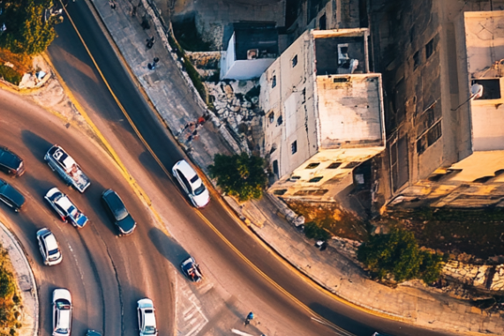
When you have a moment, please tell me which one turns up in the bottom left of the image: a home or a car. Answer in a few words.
car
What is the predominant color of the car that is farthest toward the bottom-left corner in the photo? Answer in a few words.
white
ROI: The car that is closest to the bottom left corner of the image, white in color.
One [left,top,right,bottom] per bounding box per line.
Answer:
[49,289,76,336]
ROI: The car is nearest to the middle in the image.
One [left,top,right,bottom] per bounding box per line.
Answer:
[168,157,212,211]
